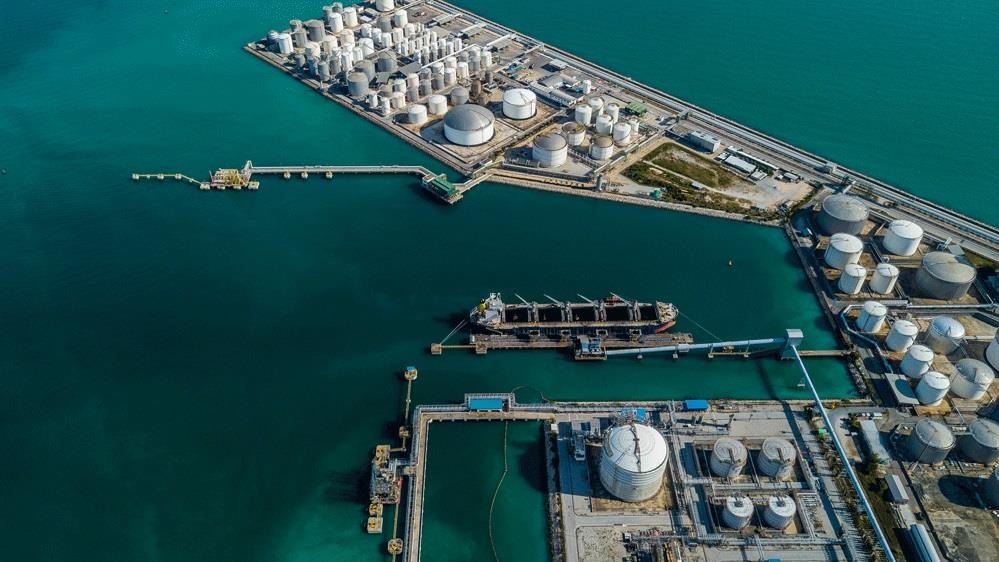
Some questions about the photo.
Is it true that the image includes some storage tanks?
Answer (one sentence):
Yes, there is a storage tank in the image.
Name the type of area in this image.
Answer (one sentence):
What you see here is a port.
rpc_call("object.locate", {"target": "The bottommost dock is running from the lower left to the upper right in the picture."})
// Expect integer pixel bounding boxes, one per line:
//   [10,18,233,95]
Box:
[408,411,557,562]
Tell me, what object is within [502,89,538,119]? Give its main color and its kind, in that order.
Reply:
white storage tank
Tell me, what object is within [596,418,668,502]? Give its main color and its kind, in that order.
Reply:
white storage tank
